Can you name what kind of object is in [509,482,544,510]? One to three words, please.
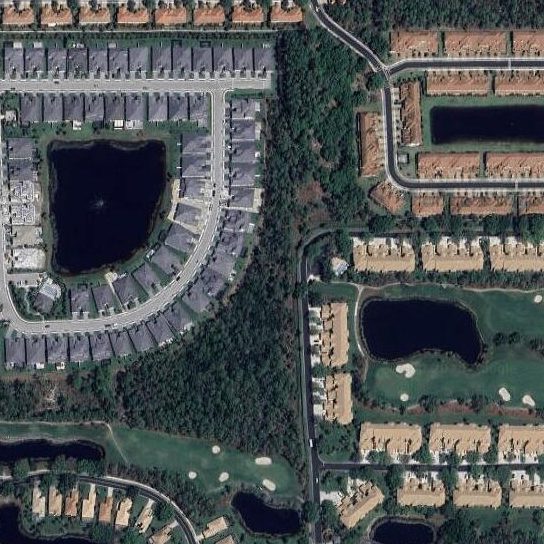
building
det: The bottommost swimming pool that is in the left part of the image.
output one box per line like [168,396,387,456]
[41,280,62,300]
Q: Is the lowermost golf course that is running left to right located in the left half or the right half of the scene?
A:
left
